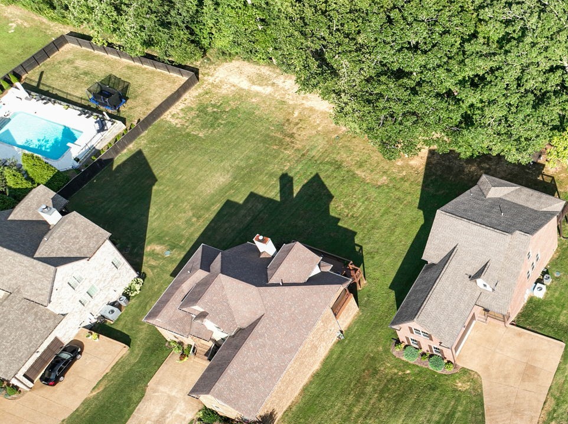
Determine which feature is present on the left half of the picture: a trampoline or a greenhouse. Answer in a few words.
trampoline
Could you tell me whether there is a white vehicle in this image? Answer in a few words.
No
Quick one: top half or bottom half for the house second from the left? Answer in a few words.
bottom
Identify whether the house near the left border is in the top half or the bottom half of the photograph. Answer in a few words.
bottom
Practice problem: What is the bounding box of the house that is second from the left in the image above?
[142,233,365,424]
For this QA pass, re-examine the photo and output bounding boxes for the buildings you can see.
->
[0,183,137,390]
[389,174,568,364]
[142,233,365,424]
